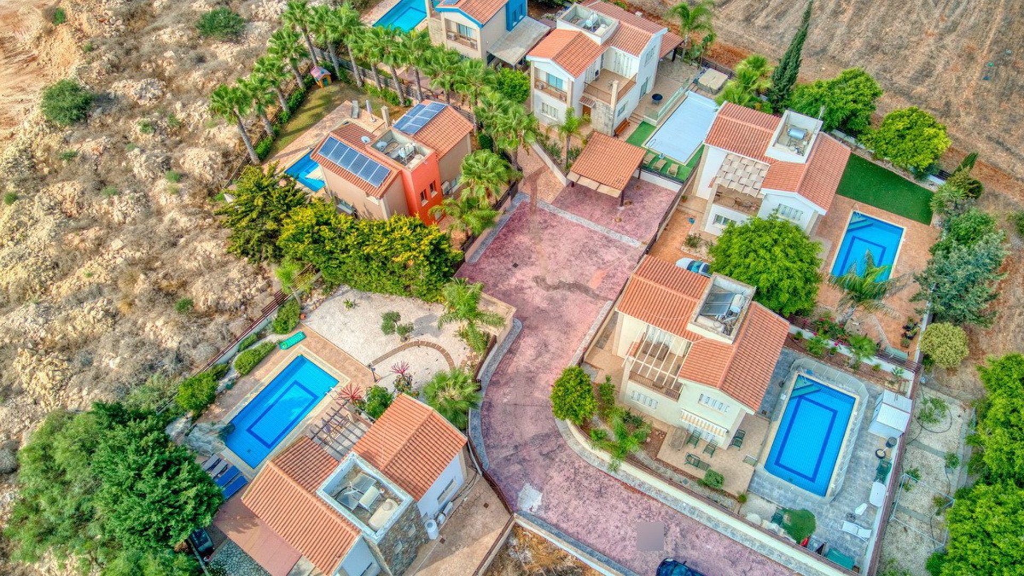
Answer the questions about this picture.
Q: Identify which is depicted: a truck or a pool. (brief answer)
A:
pool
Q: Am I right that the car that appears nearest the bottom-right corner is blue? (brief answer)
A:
Yes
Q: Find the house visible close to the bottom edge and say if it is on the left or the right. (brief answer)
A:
left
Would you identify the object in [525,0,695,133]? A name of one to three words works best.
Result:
house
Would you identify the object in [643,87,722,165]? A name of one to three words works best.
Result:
swimming pool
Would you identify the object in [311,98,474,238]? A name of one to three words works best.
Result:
house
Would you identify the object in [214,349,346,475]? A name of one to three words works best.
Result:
swimming pool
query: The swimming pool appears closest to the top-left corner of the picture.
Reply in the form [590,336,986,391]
[281,138,331,199]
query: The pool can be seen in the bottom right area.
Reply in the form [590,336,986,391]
[759,370,861,502]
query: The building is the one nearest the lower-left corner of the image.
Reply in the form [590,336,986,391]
[240,393,468,576]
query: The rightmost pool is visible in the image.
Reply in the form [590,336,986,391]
[828,209,907,284]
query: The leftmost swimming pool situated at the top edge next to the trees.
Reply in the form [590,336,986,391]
[369,0,444,44]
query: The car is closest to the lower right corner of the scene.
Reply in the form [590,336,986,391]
[650,553,706,576]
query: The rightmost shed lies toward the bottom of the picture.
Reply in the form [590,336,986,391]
[868,393,913,439]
